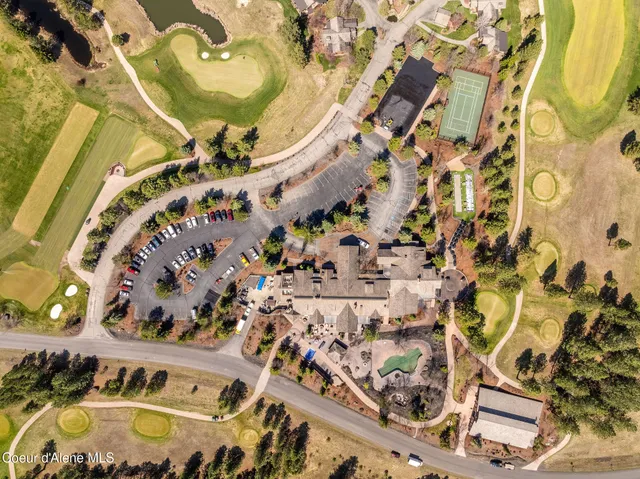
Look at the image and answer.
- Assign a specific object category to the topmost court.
tennis court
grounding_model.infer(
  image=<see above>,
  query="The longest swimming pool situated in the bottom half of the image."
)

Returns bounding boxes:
[376,346,423,378]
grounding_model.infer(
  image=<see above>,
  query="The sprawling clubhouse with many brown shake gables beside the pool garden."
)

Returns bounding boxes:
[274,246,442,334]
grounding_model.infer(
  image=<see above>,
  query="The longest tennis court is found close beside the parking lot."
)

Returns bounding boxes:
[438,69,491,144]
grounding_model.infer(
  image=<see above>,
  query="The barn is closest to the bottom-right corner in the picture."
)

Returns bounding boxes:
[469,387,542,451]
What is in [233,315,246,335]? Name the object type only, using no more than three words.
vehicle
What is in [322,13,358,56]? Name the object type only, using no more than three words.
house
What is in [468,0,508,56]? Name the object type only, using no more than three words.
house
